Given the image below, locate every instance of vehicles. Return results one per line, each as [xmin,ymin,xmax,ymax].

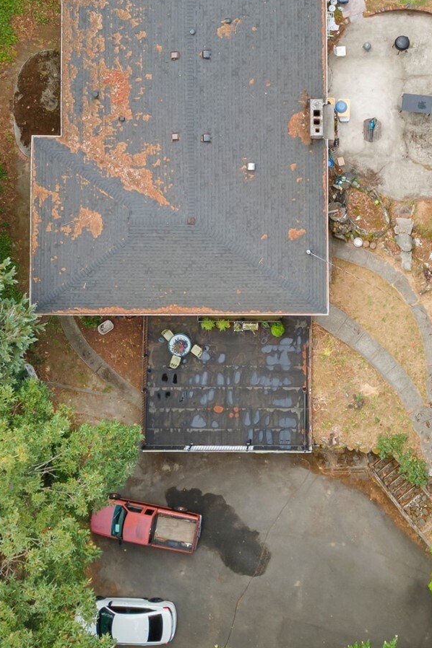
[87,491,206,556]
[80,596,177,648]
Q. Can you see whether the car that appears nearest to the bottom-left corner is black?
No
